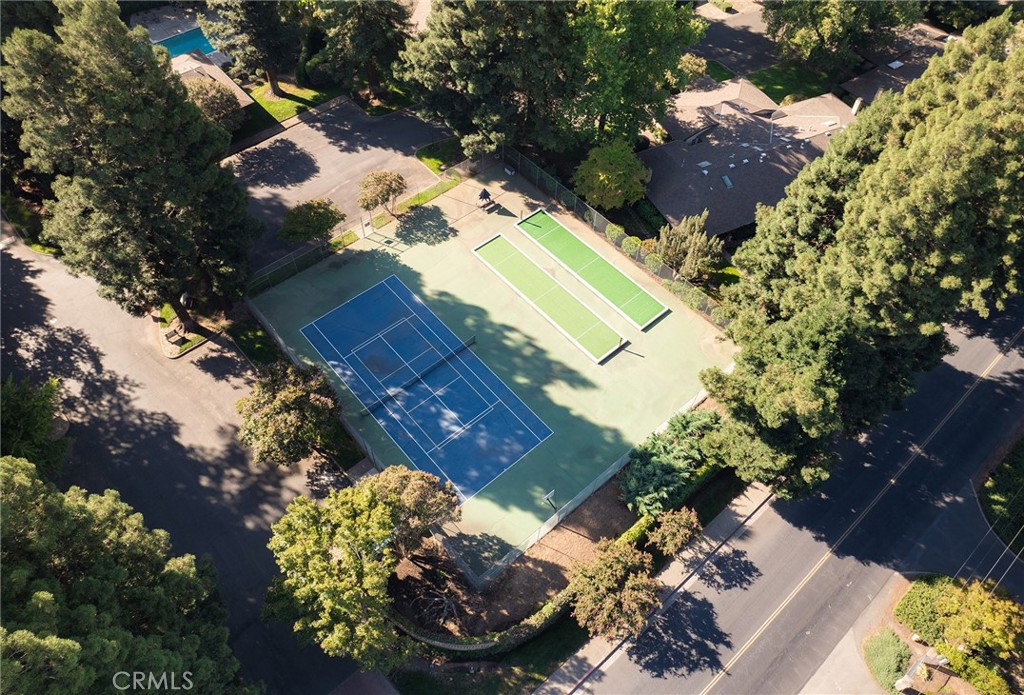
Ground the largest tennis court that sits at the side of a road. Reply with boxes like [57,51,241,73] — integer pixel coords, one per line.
[242,165,730,587]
